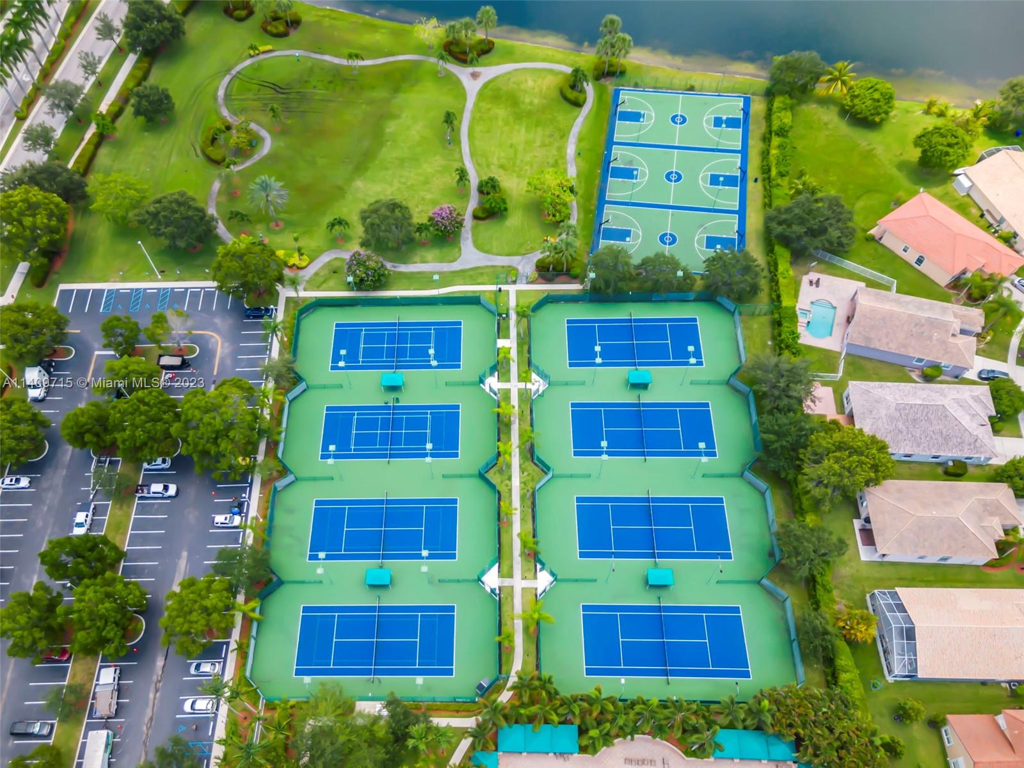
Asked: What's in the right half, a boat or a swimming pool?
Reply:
swimming pool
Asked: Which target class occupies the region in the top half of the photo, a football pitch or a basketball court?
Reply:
basketball court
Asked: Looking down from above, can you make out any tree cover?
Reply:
Yes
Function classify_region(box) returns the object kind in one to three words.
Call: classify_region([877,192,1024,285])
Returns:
house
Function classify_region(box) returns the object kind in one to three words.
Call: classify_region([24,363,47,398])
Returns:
truck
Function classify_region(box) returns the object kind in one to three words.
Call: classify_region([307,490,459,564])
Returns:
tennis court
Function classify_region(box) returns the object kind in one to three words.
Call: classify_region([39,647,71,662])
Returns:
car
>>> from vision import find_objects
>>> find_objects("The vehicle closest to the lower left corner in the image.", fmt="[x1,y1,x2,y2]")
[9,720,53,737]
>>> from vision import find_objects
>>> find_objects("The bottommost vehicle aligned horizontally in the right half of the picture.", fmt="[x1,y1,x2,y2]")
[977,368,1009,382]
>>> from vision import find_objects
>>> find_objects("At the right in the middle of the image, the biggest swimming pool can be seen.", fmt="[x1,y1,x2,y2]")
[806,299,836,338]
